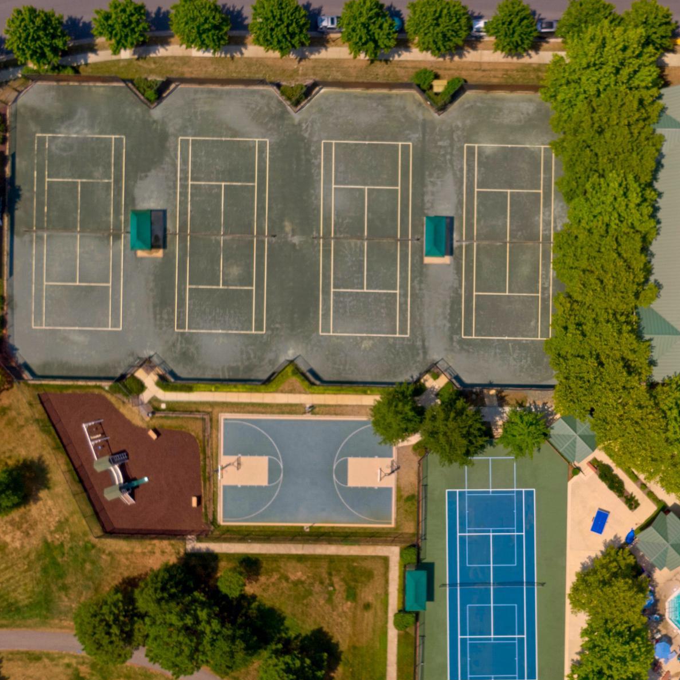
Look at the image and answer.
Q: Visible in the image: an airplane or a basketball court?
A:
basketball court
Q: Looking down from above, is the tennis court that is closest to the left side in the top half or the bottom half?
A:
top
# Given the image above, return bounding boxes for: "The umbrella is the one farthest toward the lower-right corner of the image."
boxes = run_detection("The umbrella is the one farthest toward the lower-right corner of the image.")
[654,641,671,658]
